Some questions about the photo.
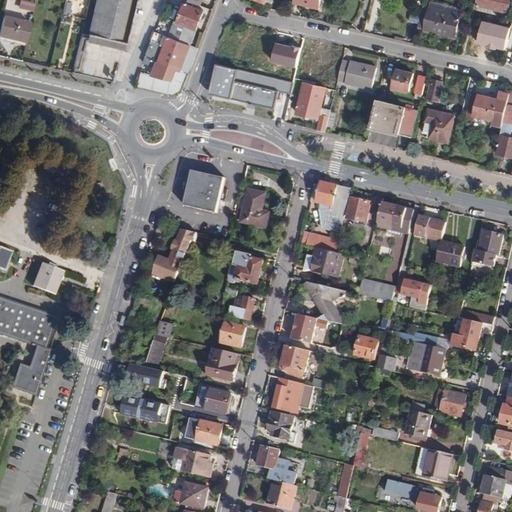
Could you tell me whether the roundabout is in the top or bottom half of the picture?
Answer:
top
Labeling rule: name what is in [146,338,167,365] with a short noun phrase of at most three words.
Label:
shed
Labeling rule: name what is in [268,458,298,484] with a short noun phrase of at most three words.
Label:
building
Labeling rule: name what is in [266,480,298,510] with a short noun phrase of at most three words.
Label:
house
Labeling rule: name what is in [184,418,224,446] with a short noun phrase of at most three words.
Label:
house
